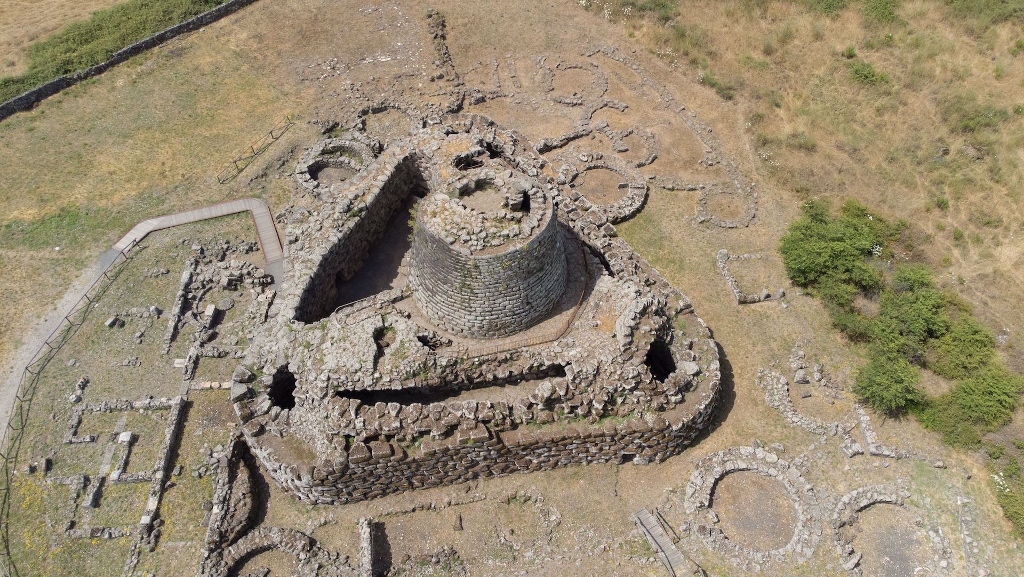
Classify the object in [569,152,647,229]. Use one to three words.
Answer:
shed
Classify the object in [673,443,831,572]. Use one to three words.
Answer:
shed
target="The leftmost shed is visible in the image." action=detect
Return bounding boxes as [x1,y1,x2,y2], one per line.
[215,523,325,577]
